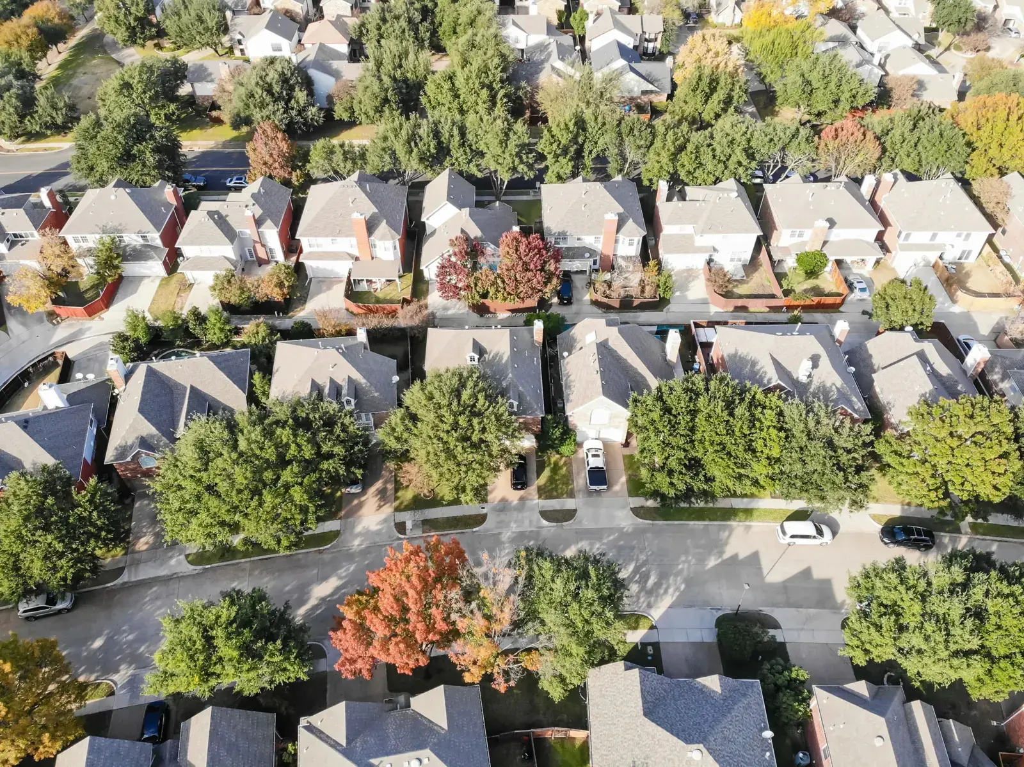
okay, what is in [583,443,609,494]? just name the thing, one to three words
truck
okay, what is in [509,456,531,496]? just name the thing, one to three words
car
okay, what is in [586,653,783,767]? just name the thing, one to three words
house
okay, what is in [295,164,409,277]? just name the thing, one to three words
house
